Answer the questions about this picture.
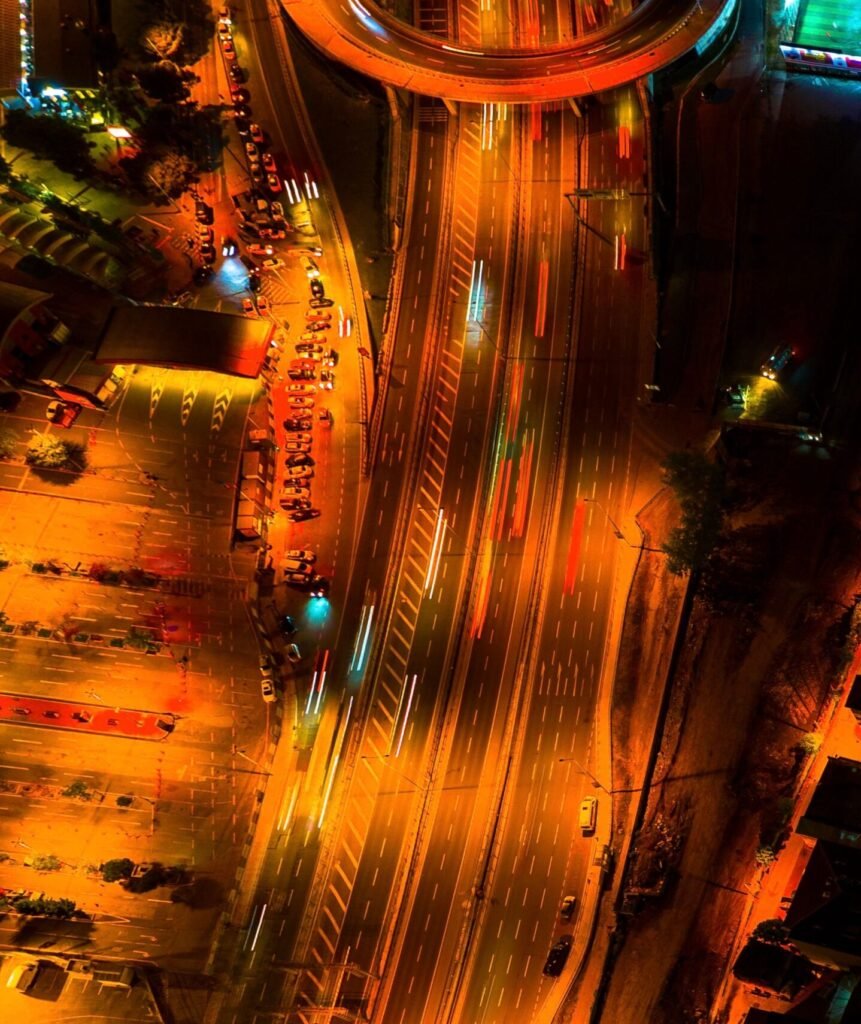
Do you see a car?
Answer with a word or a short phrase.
Yes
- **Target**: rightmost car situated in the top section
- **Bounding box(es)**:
[765,346,787,373]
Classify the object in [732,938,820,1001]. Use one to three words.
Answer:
house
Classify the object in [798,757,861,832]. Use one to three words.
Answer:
house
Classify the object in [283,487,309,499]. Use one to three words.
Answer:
vehicle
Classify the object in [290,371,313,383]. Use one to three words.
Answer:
vehicle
